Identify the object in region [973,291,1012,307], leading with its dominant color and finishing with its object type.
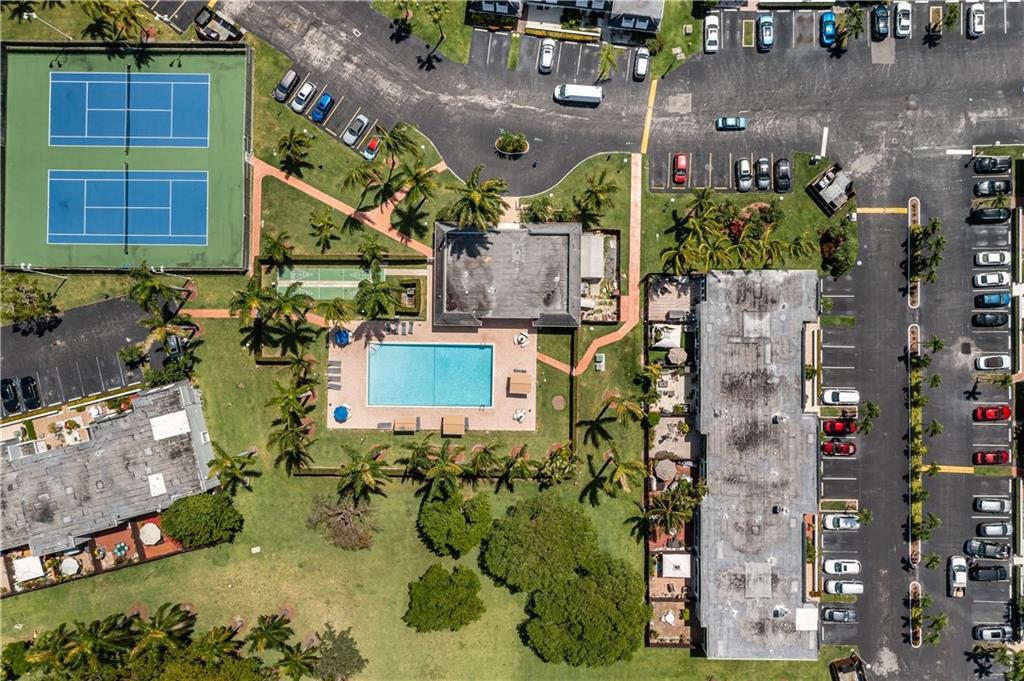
blue vehicle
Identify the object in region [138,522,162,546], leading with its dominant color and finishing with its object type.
white umbrella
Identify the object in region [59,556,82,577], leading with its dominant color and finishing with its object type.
white umbrella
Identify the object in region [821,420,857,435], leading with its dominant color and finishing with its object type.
red car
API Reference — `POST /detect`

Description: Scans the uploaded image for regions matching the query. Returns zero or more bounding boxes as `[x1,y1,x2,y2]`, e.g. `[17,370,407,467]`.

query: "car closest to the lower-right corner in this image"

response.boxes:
[972,624,1011,643]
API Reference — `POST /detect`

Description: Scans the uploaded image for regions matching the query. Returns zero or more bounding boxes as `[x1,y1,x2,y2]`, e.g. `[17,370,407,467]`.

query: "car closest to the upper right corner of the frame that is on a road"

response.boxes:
[966,2,987,40]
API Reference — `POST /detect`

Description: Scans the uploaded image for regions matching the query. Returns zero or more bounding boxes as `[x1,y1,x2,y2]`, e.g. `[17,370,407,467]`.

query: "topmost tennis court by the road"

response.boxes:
[6,48,242,158]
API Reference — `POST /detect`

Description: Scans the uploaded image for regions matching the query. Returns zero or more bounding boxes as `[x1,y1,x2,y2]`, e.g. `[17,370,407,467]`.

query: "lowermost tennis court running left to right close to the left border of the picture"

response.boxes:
[5,158,250,268]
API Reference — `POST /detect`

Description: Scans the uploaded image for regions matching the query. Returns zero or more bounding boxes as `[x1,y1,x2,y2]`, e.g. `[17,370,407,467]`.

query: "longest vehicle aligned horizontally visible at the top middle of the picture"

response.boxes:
[553,83,604,104]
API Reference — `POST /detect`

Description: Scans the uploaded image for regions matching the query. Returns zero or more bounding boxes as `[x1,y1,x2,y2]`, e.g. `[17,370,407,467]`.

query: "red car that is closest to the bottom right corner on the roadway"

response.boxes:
[971,450,1009,466]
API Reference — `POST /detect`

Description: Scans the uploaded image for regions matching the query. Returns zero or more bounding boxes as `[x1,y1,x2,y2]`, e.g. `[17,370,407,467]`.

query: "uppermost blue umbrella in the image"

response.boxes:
[333,328,351,346]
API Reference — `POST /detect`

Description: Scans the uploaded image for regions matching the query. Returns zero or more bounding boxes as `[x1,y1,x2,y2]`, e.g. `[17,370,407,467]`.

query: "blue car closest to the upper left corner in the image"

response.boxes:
[310,91,335,124]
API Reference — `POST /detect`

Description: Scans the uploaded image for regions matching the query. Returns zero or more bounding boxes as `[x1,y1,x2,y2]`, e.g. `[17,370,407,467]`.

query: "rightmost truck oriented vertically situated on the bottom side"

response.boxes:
[947,554,968,599]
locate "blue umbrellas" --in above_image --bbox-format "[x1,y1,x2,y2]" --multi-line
[333,405,349,422]
[333,328,351,346]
